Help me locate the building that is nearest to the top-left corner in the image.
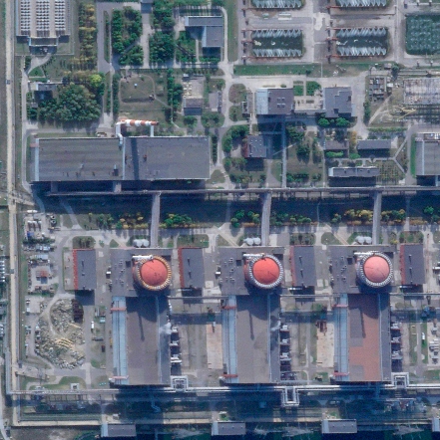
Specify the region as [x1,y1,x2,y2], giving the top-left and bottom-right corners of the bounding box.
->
[14,0,73,46]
